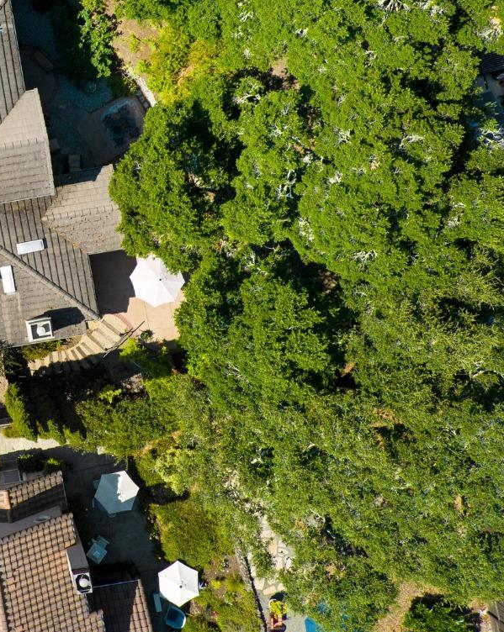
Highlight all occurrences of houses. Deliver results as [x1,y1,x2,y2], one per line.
[0,454,153,632]
[0,0,128,351]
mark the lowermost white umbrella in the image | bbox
[157,555,199,602]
